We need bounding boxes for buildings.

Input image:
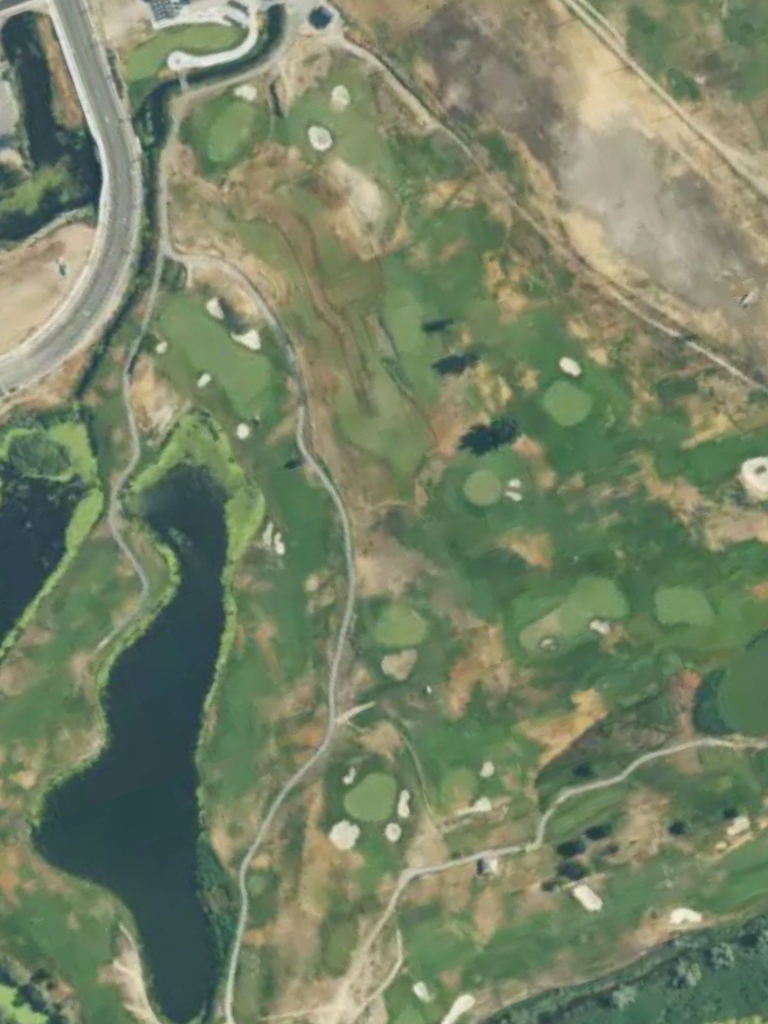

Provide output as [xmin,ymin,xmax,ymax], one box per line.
[481,860,497,876]
[154,0,189,25]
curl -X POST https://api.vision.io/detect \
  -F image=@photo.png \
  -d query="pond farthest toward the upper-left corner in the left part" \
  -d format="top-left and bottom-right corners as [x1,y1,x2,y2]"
[0,12,98,243]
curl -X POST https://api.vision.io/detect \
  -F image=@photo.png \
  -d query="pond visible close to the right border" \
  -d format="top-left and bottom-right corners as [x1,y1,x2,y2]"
[696,635,768,735]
